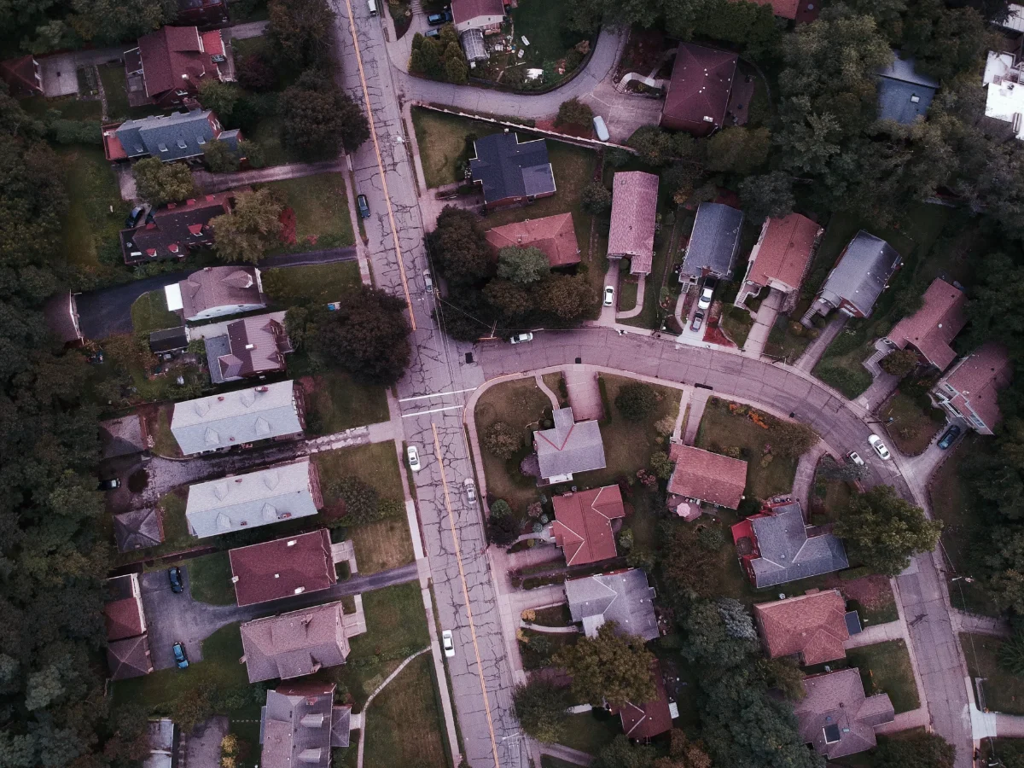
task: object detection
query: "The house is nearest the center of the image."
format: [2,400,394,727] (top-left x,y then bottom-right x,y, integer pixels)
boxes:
[532,407,606,487]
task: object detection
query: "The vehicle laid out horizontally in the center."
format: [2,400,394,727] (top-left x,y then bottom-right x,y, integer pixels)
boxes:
[509,332,534,344]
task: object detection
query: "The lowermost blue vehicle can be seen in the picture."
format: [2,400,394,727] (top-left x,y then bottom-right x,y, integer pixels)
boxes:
[172,640,189,670]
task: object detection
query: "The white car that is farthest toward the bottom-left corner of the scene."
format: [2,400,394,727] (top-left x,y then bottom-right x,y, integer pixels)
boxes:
[442,628,455,656]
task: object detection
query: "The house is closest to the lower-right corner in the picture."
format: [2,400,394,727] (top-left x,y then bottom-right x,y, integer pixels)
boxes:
[797,663,896,759]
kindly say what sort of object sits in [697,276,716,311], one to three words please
vehicle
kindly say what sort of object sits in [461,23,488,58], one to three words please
greenhouse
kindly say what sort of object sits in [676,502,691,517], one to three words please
umbrella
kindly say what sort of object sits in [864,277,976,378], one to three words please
house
